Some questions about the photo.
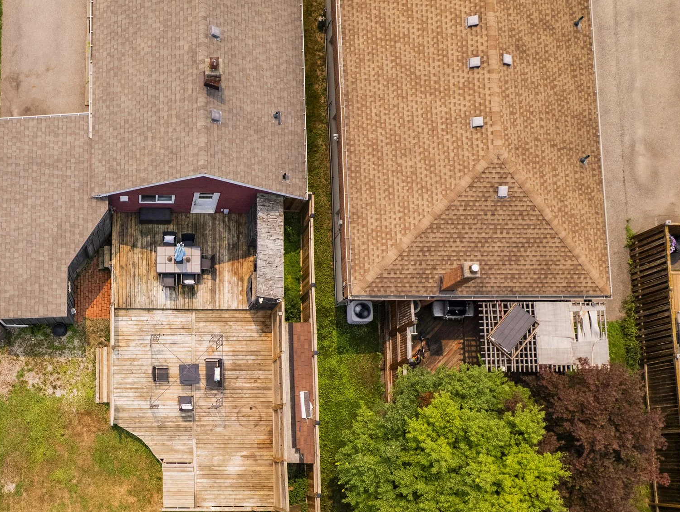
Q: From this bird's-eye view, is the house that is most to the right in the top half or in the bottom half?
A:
top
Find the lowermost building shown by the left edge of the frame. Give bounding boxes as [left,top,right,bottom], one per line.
[0,111,110,328]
